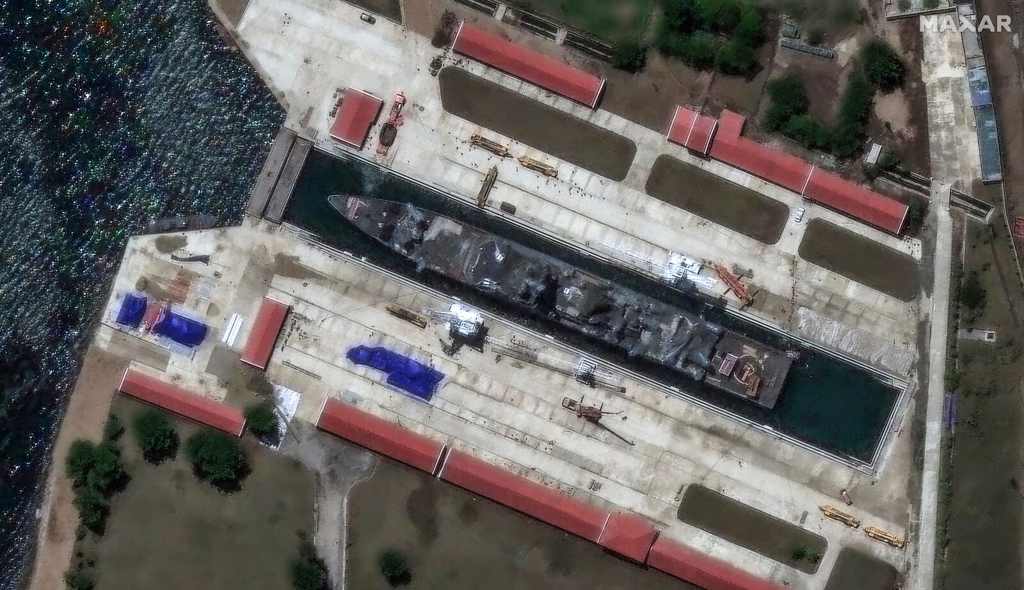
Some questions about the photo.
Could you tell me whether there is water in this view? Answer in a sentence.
Yes, water can be seen from above here.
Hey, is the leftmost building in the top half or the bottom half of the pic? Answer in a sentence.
The bottom half of the photo is where the leftmost building is.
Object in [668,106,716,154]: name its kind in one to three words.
building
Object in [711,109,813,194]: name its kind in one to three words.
building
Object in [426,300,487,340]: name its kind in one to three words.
crane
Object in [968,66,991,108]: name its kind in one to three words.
shed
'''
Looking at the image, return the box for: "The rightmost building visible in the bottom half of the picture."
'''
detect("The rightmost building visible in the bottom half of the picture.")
[648,533,794,590]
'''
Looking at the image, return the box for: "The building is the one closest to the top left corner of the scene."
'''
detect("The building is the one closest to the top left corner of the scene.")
[330,87,383,147]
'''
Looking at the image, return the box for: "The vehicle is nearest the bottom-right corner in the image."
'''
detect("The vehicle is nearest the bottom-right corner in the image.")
[840,489,852,505]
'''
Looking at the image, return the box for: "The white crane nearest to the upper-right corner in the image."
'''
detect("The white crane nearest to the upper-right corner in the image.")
[663,244,718,287]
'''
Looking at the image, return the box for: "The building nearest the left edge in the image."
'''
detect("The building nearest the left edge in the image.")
[120,368,245,436]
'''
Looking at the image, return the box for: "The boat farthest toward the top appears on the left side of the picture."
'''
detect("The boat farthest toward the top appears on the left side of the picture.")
[379,122,396,144]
